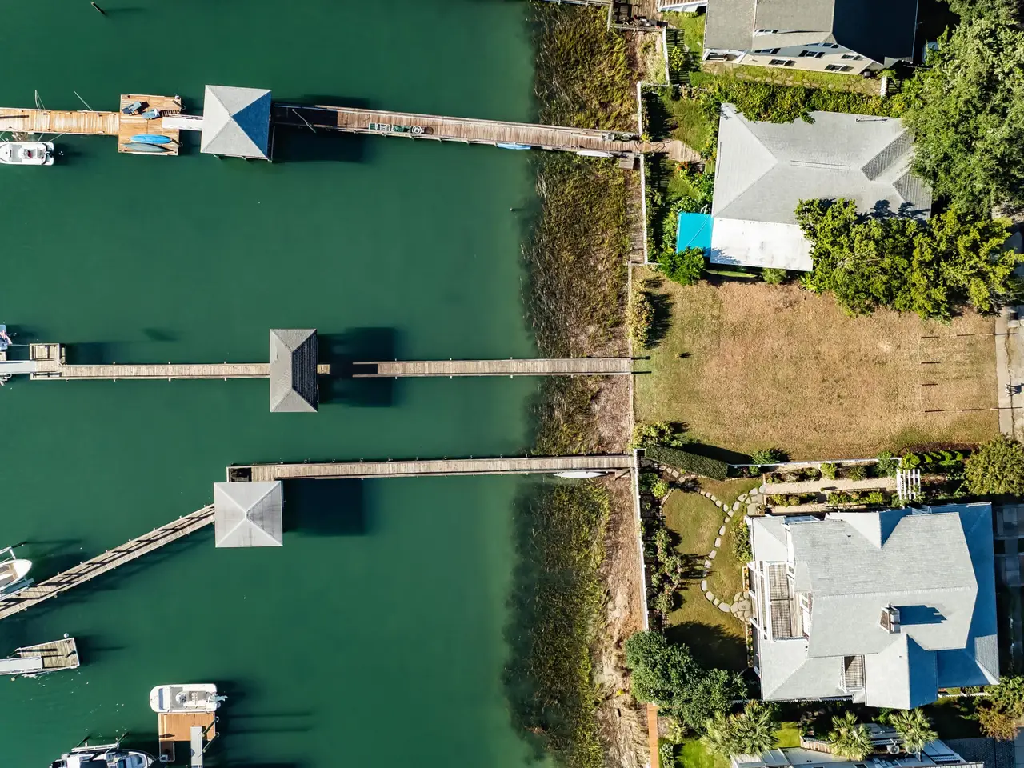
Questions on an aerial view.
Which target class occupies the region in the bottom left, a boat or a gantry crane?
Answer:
boat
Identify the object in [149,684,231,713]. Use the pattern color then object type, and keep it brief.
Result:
white boat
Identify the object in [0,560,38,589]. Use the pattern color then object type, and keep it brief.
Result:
white boat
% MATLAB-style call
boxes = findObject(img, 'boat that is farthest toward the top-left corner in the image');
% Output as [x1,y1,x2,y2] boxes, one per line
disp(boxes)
[0,141,70,166]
